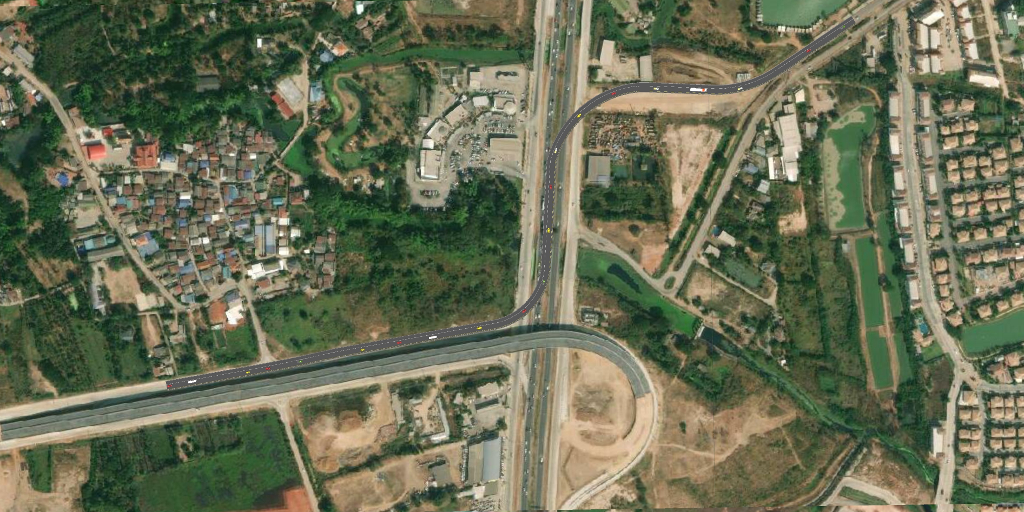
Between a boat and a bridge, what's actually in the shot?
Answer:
bridge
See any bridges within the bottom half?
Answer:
Yes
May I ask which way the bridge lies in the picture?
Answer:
horizontally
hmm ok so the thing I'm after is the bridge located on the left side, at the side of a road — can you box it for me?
[1,331,651,441]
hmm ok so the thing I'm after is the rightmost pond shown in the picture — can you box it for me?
[961,308,1024,353]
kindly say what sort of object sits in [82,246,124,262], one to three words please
house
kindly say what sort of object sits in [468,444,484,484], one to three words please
building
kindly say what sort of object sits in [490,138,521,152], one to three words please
building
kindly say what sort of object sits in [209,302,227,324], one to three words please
house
